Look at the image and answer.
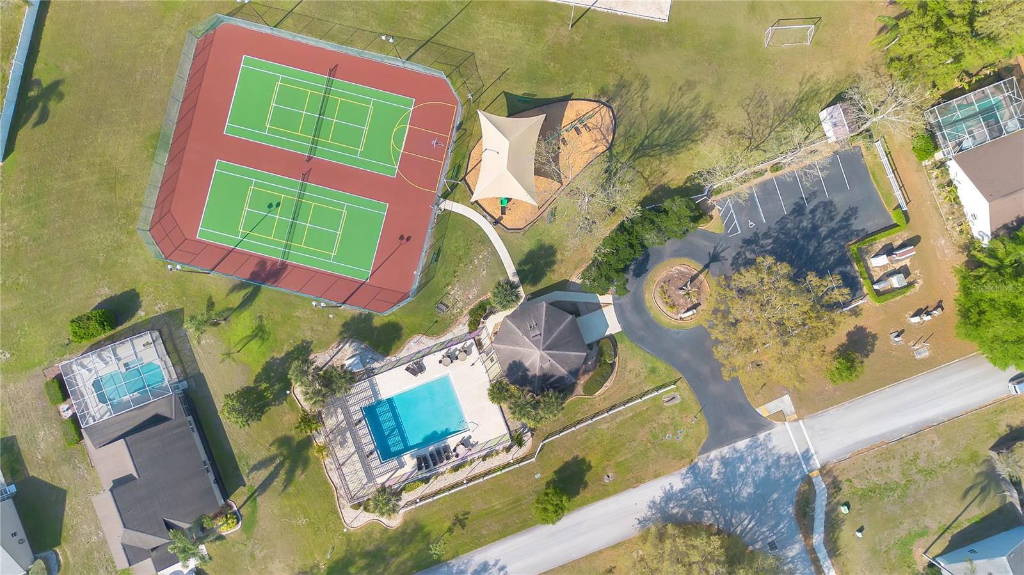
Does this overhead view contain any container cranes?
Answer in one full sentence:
No, this view has no container crane in it.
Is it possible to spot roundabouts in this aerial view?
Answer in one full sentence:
Yes, there's a roundabout here.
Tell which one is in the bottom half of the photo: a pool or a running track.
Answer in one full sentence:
The feature located in the bottom half of the photo is a pool.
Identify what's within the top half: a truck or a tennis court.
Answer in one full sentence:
You can see a tennis court within the top half.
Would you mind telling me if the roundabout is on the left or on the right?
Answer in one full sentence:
It is on the right.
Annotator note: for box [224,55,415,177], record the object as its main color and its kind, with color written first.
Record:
green tennis court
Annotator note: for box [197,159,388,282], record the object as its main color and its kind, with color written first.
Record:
green tennis court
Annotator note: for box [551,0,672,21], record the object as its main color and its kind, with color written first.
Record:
white sports court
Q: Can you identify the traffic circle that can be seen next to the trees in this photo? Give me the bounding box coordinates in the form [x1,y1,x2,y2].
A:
[625,238,730,350]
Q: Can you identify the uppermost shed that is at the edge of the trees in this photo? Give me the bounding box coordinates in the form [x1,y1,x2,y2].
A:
[812,100,865,145]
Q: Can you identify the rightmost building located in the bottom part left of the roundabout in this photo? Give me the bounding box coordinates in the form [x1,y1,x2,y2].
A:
[494,303,591,398]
